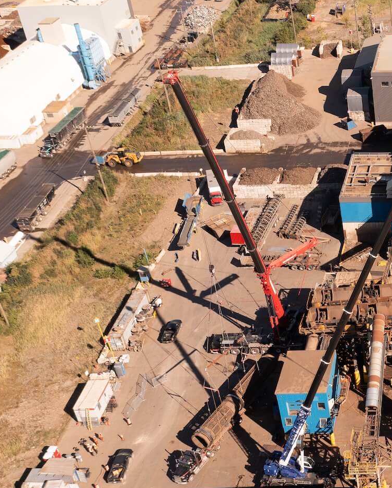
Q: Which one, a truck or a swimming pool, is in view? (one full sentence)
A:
The image shows a truck.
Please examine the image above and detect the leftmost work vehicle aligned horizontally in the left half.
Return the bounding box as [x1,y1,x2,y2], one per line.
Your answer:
[94,144,137,163]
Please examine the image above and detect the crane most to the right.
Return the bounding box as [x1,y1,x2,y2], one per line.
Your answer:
[247,207,392,488]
